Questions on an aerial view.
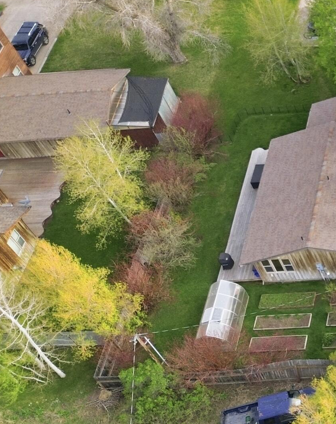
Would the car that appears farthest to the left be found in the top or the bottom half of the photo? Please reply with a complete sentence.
The car that appears farthest to the left sits in the top half of the picture.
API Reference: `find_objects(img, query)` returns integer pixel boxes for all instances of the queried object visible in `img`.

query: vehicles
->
[221,388,318,424]
[9,23,49,68]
